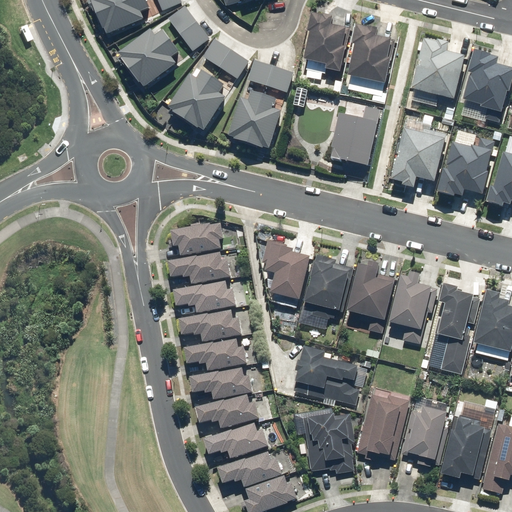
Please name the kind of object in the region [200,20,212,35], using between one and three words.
vehicle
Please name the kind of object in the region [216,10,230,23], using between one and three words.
vehicle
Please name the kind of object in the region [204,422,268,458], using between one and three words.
house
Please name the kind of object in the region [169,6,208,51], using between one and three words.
building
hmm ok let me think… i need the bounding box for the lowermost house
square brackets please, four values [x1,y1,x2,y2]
[248,474,306,512]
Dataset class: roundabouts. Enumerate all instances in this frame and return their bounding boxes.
[98,148,131,182]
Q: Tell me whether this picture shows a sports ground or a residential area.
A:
residential area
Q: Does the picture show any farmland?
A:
No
